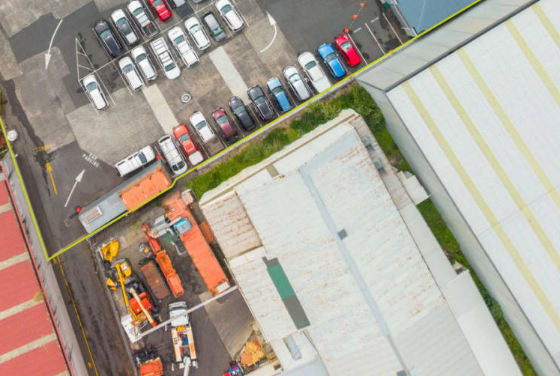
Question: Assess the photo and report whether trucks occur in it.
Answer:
Yes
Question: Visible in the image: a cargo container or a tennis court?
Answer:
cargo container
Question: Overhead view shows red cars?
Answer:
Yes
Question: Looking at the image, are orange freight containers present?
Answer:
Yes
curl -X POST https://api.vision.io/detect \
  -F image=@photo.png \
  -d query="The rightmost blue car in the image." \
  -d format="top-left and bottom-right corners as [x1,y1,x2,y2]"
[319,42,346,80]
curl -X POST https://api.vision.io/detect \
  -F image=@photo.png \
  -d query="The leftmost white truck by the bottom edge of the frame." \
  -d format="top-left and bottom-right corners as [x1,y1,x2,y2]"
[168,300,200,376]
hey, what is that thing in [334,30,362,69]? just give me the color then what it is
red car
